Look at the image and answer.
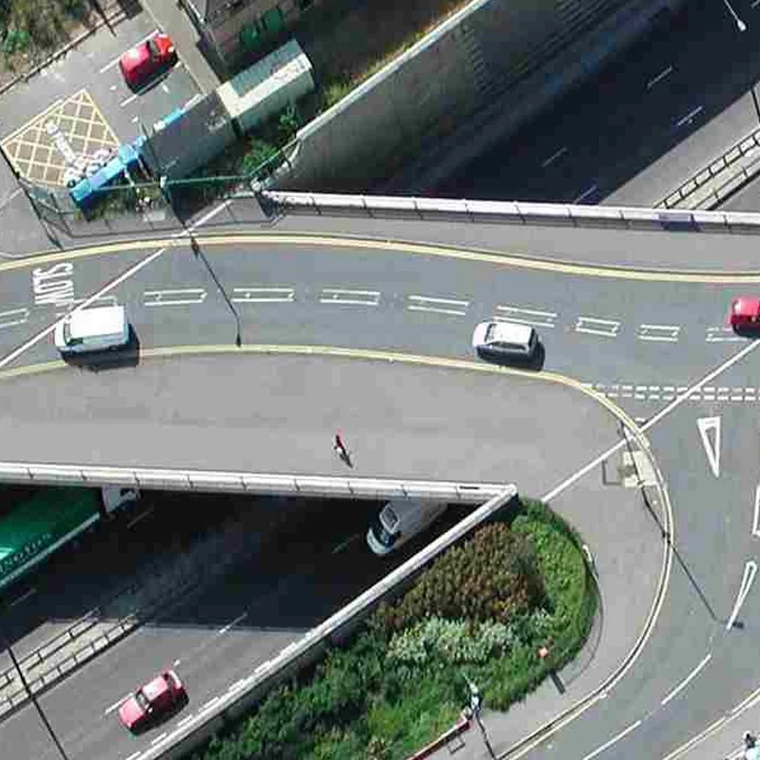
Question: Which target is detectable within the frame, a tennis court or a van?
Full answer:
I can see a van in this picture.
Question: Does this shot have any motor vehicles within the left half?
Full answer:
Yes, a motor vehicle is visible within the left half.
